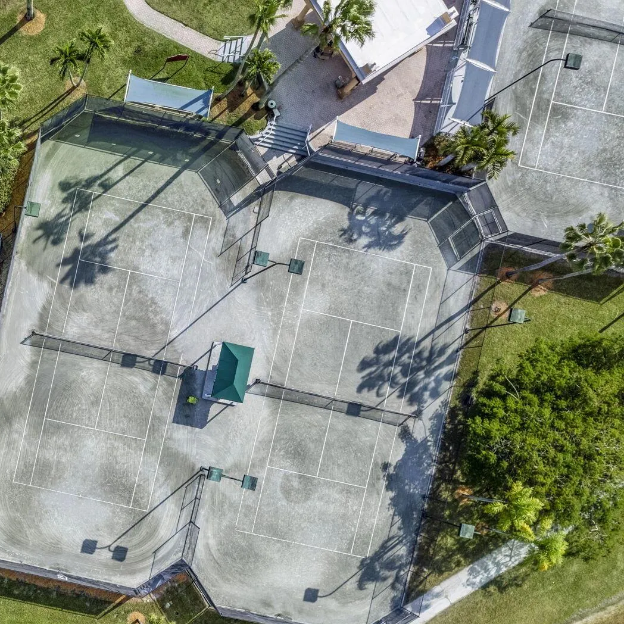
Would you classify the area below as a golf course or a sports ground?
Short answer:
sports ground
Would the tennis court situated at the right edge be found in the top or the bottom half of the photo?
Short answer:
top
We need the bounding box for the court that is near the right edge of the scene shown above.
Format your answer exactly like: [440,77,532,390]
[468,0,624,256]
